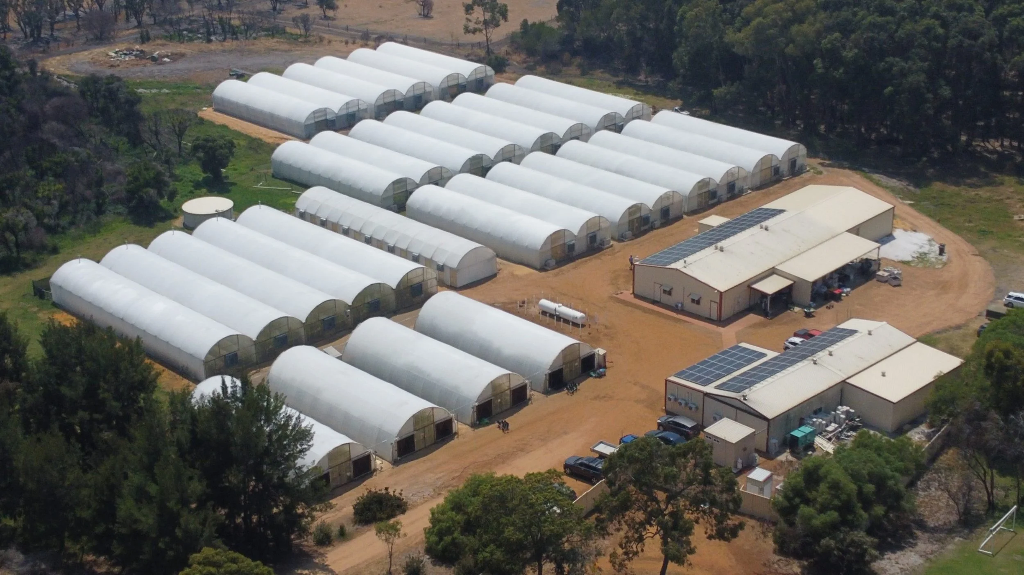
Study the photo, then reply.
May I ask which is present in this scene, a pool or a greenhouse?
greenhouse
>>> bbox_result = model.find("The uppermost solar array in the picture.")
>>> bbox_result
[640,207,785,265]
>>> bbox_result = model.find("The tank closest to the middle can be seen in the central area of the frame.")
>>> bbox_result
[539,296,585,324]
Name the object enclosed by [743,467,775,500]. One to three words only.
shed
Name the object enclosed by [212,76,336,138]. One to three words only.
greenhouse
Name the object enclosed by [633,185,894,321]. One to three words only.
shed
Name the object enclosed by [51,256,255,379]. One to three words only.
greenhouse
